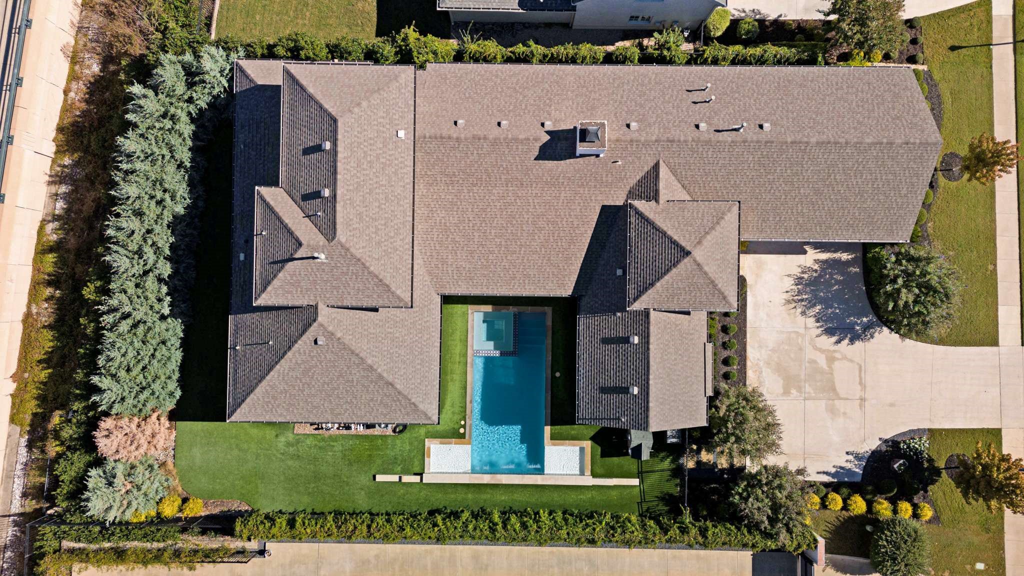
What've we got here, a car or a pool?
pool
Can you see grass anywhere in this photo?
Yes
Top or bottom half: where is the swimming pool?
bottom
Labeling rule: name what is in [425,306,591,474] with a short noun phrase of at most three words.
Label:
swimming pool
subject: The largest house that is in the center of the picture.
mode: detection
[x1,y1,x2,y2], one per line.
[225,57,942,431]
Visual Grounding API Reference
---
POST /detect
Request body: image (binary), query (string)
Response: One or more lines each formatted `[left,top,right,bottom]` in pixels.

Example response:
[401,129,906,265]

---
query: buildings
[225,57,942,431]
[436,0,724,29]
